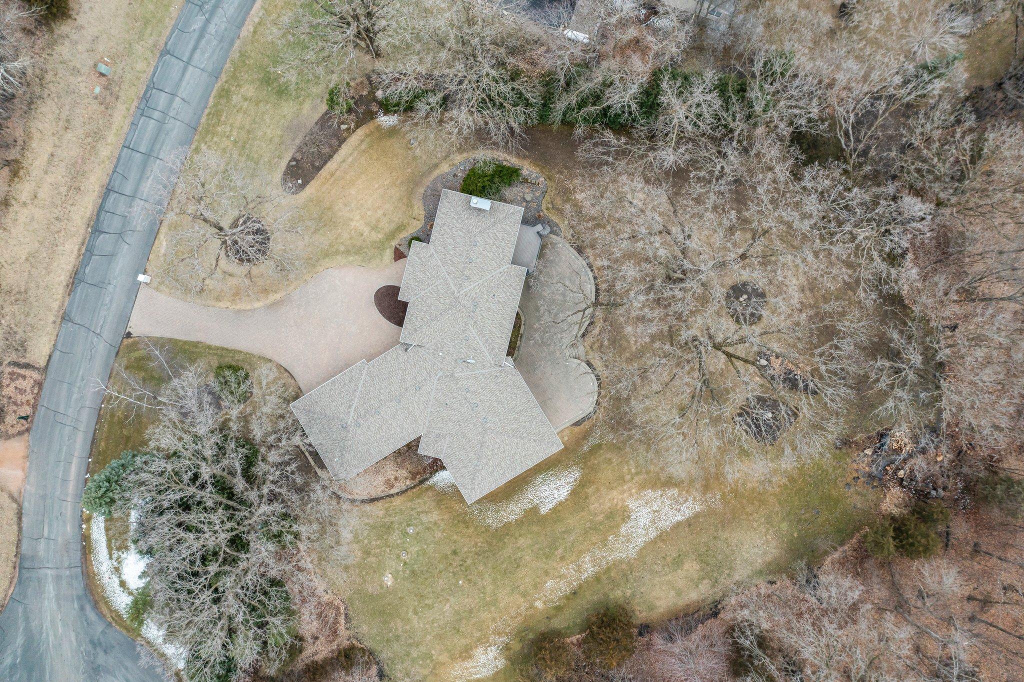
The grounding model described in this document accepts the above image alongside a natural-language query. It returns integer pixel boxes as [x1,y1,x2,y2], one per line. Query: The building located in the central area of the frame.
[290,188,564,505]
